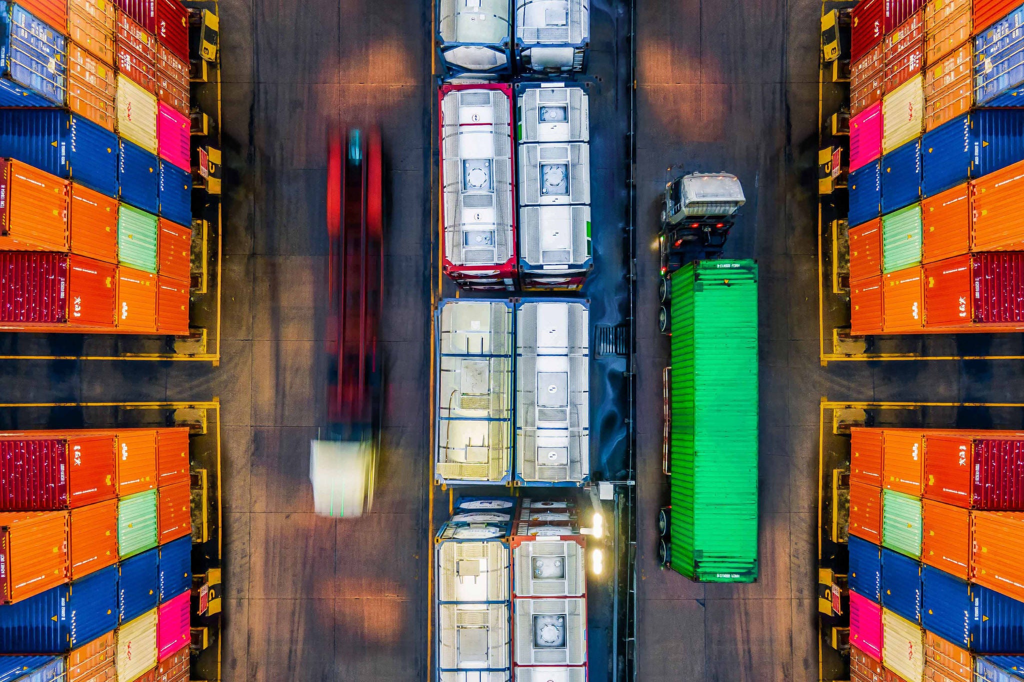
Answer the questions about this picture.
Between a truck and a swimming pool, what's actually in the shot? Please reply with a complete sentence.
I can see a truck in this picture.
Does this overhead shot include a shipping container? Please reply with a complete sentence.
Yes, there's a shipping container down there.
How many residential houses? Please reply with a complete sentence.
No residential houses are visible.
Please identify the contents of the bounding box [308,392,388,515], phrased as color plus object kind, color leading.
white truck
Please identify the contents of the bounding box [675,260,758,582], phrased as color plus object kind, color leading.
green shipping container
